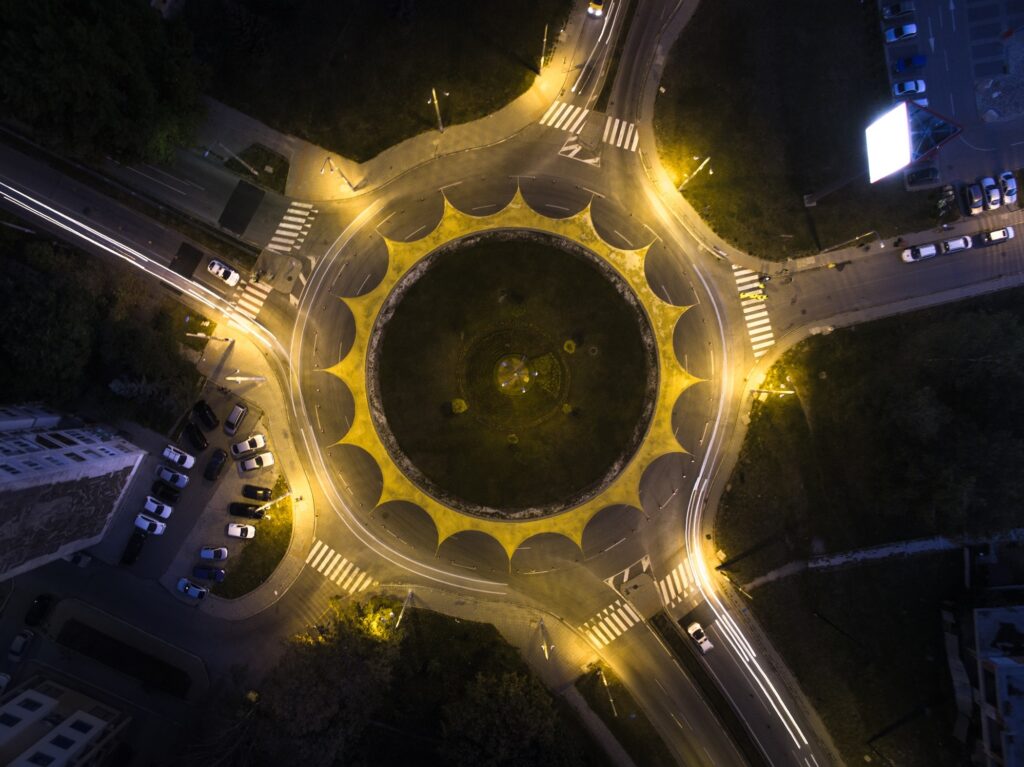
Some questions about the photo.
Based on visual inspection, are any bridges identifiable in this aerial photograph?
No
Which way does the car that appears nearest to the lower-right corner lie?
diagonally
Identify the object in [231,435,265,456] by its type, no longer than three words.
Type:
car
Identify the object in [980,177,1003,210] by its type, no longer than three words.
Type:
car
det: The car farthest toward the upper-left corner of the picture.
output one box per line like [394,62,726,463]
[206,259,239,284]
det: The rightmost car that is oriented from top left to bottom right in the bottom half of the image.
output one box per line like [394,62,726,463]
[686,621,714,654]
